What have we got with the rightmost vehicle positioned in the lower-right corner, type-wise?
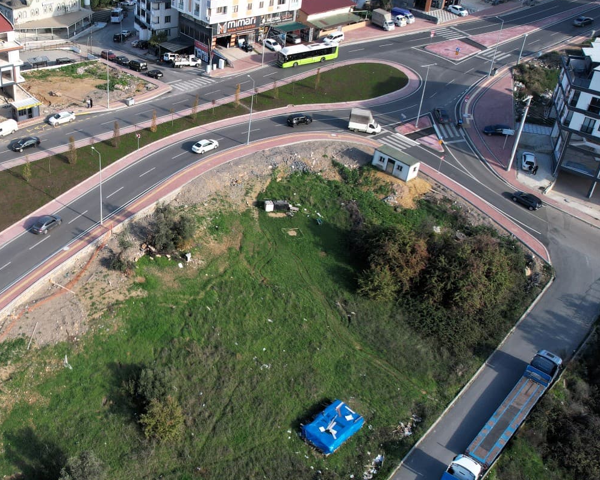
truck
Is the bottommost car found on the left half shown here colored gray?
Yes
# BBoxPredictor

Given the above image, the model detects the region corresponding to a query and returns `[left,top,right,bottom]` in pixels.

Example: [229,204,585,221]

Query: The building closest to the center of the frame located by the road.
[374,145,423,182]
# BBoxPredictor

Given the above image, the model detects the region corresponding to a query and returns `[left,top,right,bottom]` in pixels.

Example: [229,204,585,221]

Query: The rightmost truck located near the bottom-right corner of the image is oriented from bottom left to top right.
[471,338,577,464]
